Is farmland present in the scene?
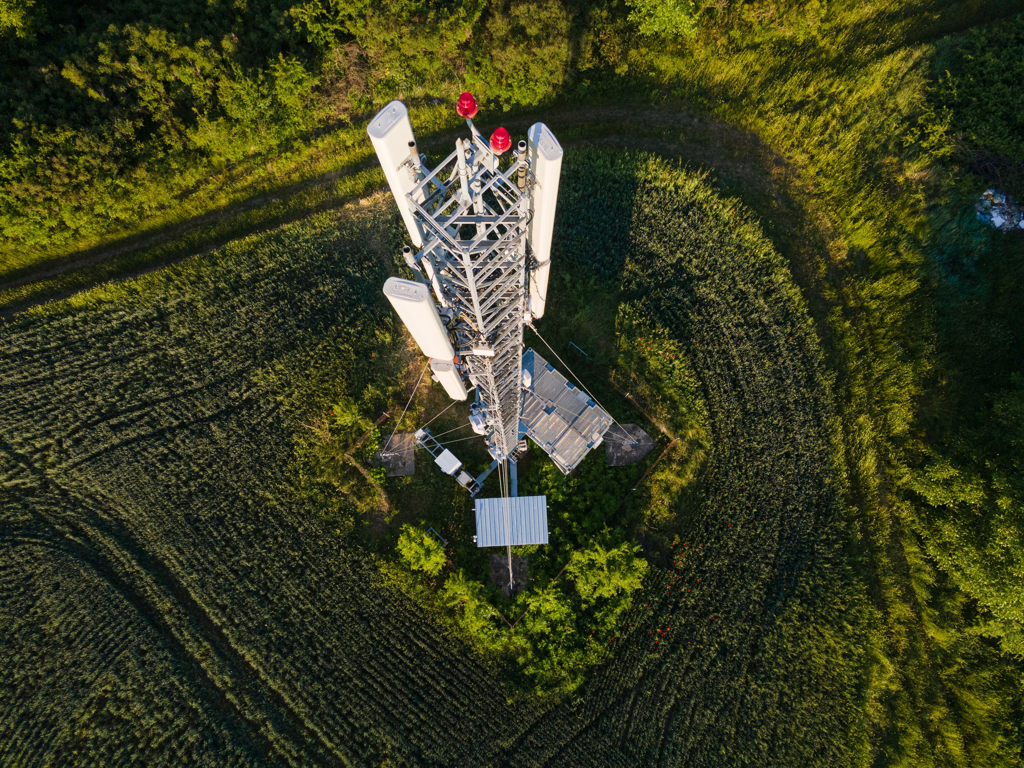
Yes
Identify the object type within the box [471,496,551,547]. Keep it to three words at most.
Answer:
shed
